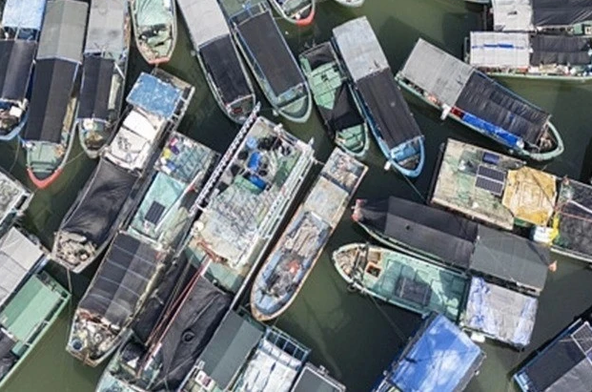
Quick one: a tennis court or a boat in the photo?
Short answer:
boat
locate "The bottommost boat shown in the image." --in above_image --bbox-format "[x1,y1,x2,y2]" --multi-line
[292,365,350,392]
